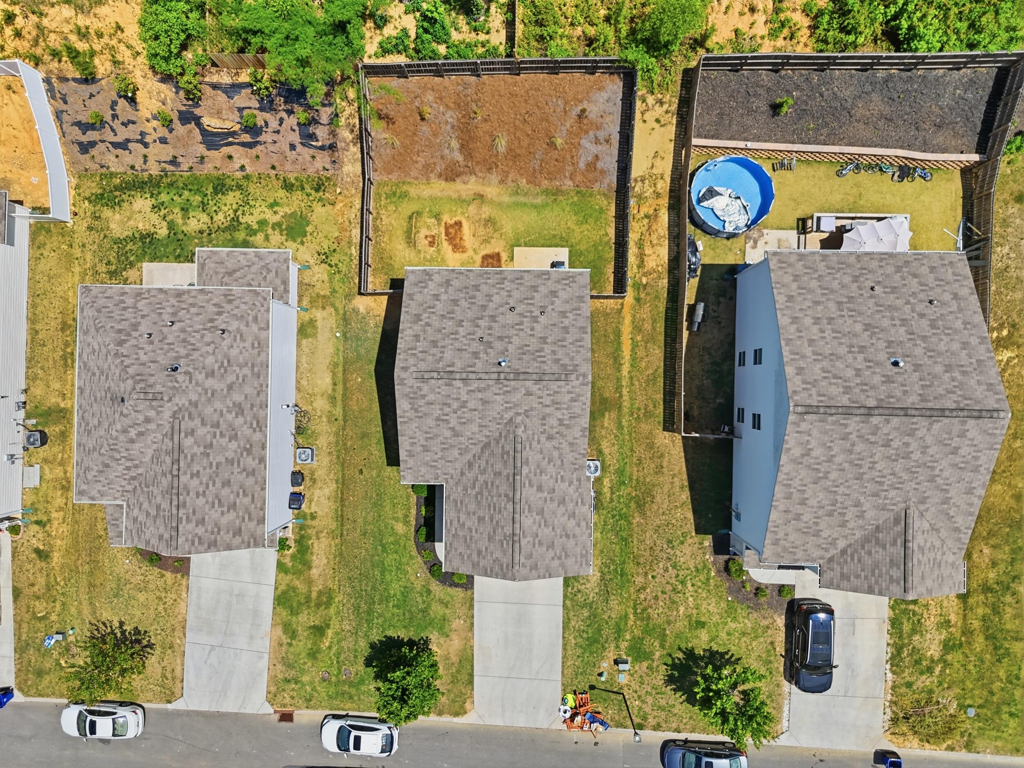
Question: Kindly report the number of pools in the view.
1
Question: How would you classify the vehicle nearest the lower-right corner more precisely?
automobile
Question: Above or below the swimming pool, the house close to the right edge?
below it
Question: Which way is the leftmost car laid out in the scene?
horizontally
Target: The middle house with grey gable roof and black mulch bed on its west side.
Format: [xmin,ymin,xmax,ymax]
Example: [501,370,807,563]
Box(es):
[394,267,595,581]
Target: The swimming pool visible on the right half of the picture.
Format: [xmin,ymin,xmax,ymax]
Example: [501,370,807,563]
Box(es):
[688,153,775,241]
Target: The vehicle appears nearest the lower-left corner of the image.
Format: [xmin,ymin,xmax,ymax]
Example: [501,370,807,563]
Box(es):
[62,701,148,745]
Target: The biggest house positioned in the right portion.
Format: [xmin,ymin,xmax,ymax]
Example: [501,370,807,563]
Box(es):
[729,249,1010,599]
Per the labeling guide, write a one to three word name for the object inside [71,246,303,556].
house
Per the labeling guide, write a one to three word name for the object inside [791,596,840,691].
car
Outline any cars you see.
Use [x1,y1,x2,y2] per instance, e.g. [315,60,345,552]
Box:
[661,739,748,768]
[321,713,400,760]
[791,596,840,691]
[62,701,148,745]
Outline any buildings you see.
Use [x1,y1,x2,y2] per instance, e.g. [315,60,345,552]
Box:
[71,246,303,556]
[729,249,1010,599]
[394,267,595,581]
[0,188,30,545]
